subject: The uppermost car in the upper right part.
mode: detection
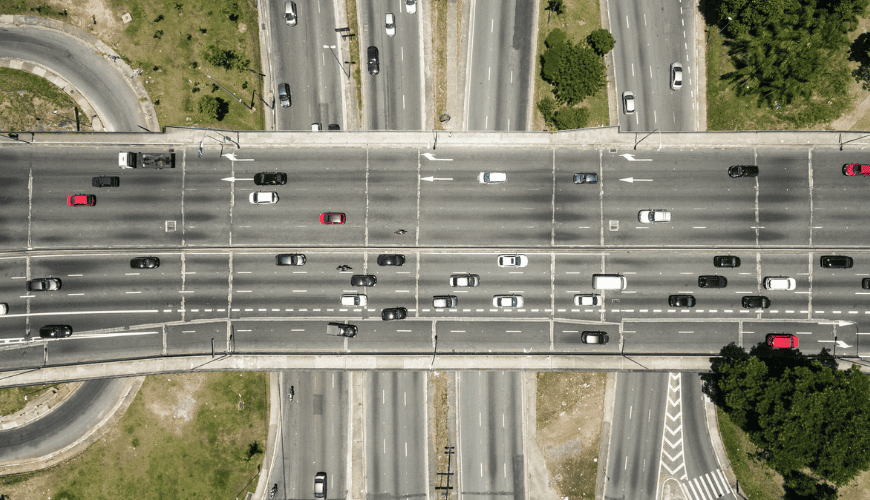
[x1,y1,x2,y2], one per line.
[669,63,684,91]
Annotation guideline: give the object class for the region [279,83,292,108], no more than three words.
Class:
vehicle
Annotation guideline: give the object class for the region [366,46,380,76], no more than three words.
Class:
vehicle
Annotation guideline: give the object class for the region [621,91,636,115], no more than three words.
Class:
car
